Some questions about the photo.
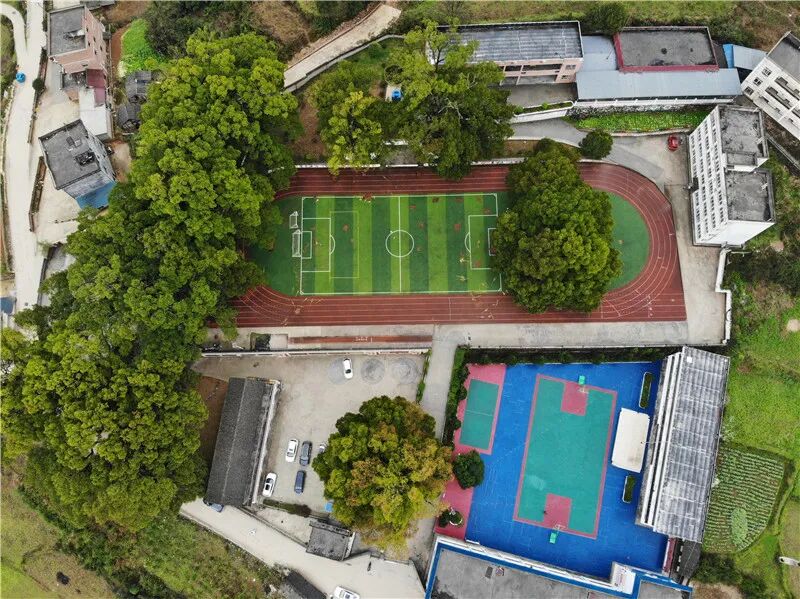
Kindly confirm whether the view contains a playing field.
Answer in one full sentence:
Yes, the image includes a playing field.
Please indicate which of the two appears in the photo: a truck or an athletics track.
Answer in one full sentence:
Visible in the photo is an athletics track.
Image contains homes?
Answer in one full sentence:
Yes, a home is visible in the scene.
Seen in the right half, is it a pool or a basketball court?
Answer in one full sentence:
You can see a basketball court in the right half.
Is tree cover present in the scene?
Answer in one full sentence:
Yes, there's tree cover in this view.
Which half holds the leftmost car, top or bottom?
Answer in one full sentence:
The leftmost car sits in the bottom half of the picture.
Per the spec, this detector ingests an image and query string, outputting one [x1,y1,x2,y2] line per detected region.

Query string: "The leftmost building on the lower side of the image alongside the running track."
[205,376,284,507]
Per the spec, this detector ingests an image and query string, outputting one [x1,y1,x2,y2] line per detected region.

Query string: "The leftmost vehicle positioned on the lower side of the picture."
[200,494,223,514]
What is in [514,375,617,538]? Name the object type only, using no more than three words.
basketball court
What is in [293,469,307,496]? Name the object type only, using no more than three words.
car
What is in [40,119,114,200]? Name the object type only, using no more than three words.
house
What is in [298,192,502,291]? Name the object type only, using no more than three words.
sports field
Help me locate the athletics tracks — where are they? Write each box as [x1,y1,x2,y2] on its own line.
[212,164,687,324]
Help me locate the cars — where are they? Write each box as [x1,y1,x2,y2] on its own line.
[284,439,298,462]
[293,469,307,496]
[667,132,678,151]
[298,441,313,466]
[262,472,277,497]
[200,494,223,514]
[334,585,361,599]
[341,358,352,379]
